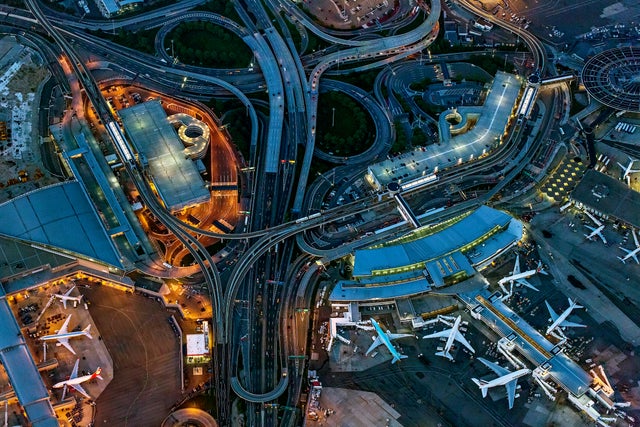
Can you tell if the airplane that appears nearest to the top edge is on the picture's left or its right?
right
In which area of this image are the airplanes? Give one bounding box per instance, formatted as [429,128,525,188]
[471,345,531,410]
[616,242,640,268]
[40,313,92,356]
[544,295,588,334]
[426,316,474,359]
[55,284,83,309]
[616,155,640,180]
[369,319,410,364]
[498,250,549,293]
[582,223,604,244]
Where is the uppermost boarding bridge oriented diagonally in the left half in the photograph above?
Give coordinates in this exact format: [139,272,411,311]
[34,294,56,324]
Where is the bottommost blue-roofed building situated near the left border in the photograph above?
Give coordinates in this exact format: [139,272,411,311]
[0,299,62,427]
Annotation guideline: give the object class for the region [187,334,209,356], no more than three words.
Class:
building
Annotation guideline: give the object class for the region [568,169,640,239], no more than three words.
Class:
building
